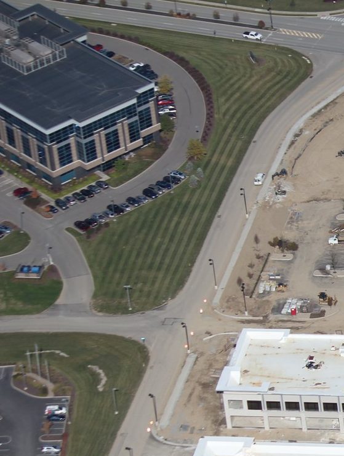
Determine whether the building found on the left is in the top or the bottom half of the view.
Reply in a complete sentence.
You can find the building found on the left in the top half.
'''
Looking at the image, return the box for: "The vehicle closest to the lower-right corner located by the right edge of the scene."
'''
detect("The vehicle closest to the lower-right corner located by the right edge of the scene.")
[315,291,332,305]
